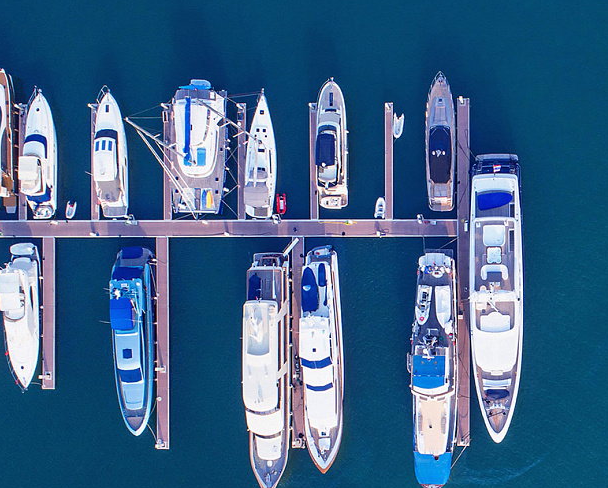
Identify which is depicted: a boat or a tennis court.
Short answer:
boat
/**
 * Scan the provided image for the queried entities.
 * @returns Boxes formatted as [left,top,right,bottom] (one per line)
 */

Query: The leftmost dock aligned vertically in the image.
[18,103,30,220]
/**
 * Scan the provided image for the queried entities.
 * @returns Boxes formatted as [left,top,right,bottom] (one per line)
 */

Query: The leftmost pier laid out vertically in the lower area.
[42,237,58,389]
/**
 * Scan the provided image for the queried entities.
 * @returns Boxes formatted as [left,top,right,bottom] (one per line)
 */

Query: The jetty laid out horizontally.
[0,220,457,238]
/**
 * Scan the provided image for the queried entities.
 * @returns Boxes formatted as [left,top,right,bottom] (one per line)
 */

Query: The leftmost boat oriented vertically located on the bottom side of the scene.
[0,244,46,392]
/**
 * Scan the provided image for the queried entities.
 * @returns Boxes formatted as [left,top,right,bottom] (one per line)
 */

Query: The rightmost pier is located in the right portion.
[457,97,470,446]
